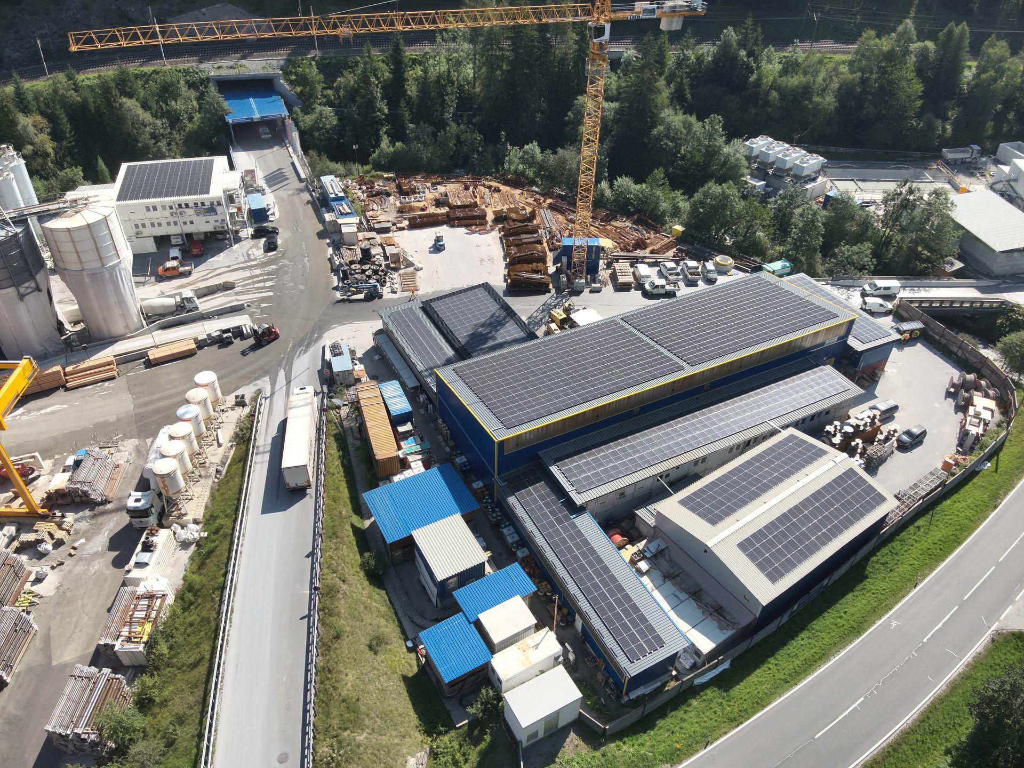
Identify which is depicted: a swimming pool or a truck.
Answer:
truck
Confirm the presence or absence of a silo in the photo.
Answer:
Yes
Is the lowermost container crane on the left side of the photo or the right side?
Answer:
left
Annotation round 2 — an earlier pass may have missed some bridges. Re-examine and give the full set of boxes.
[868,273,1024,311]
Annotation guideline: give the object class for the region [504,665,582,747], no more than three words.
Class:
building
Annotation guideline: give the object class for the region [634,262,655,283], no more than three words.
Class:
vehicle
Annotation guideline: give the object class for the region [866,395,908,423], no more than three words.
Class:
car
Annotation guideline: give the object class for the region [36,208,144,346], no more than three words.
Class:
silo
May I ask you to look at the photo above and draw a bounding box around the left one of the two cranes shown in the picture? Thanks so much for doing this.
[0,353,66,520]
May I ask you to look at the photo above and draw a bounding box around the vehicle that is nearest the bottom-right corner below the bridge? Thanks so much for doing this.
[894,419,937,449]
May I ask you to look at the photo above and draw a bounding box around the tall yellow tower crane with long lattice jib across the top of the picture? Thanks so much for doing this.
[63,0,721,283]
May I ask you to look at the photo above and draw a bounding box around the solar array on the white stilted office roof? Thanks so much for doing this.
[118,158,212,200]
